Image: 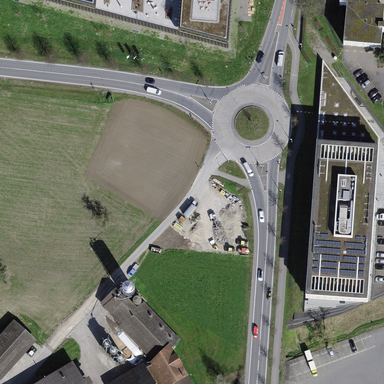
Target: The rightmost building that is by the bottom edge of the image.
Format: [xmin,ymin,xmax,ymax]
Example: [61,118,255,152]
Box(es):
[146,345,197,384]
